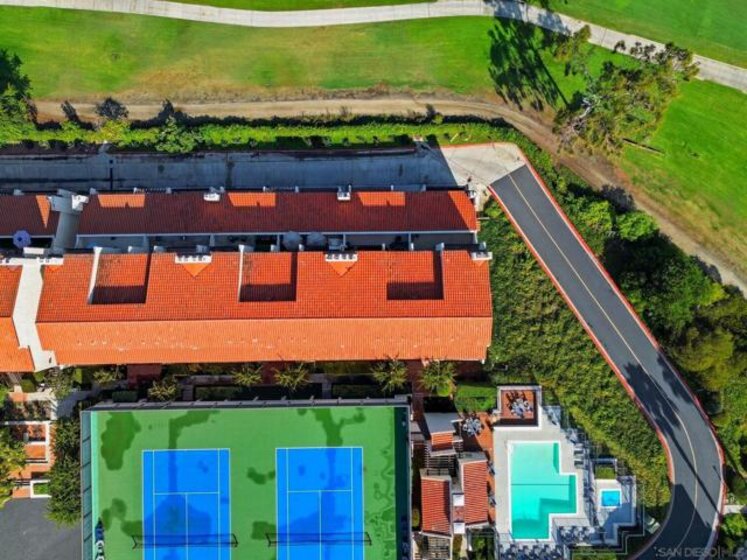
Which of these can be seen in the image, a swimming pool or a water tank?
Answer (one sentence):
Looking from above, you can make out a swimming pool.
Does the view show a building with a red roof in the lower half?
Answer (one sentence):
Yes, looking in the lower half, one can make out a building with a red roof.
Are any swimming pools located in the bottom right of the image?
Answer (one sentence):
Yes, you'll find a swimming pool in the bottom right of the image.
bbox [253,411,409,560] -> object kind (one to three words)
tennis court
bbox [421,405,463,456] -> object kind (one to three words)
building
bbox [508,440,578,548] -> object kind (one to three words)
swimming pool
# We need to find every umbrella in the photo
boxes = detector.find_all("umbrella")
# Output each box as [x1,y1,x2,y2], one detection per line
[281,234,303,252]
[15,231,44,249]
[305,234,327,251]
